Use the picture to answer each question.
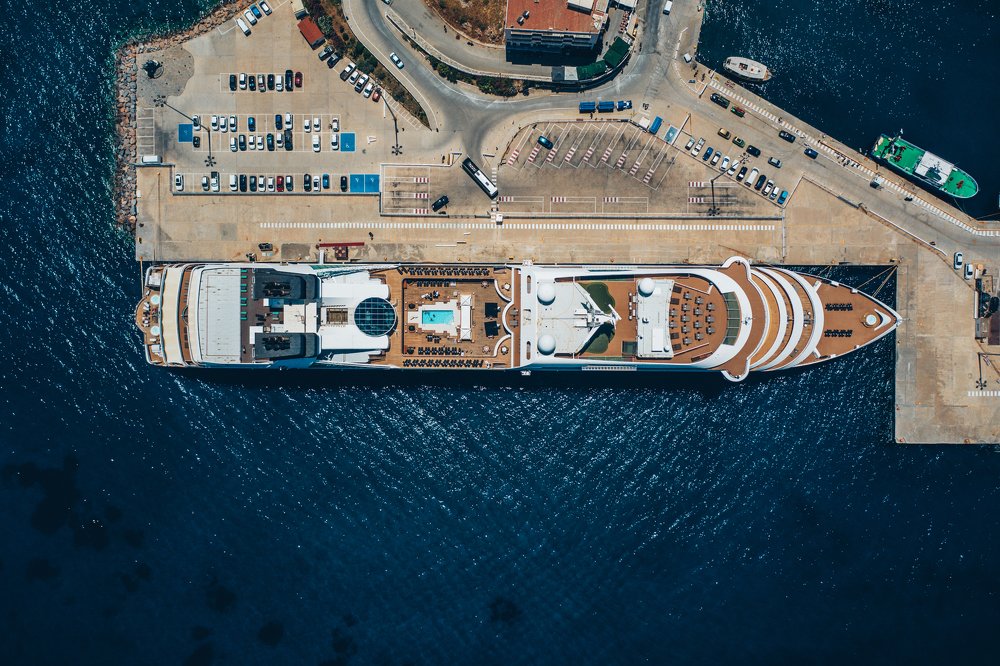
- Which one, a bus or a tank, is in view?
bus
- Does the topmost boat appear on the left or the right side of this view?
right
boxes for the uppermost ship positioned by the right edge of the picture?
[869,130,979,198]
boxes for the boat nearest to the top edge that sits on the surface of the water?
[724,56,774,81]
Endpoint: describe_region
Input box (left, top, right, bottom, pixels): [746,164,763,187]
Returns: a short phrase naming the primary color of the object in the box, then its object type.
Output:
white vehicle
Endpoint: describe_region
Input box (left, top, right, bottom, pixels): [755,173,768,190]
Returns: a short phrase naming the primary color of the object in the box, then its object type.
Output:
black vehicle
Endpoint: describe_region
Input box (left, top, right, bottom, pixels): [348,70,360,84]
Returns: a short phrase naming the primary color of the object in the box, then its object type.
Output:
white vehicle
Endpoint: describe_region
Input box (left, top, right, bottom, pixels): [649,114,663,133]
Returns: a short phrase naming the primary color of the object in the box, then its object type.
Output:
blue vehicle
